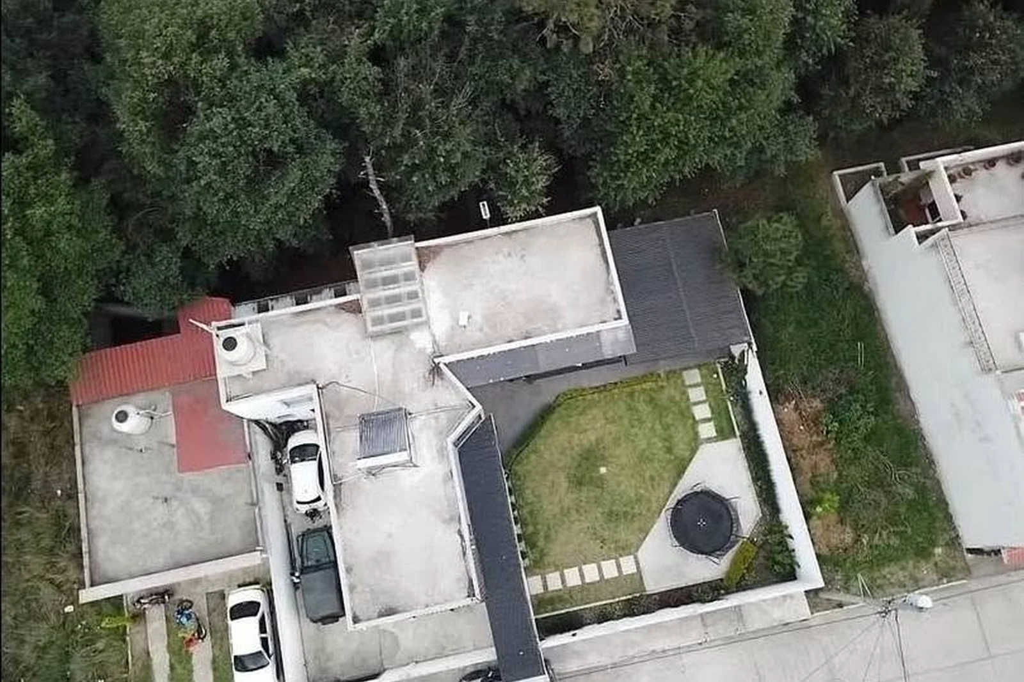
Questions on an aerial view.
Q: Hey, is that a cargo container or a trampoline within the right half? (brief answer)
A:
trampoline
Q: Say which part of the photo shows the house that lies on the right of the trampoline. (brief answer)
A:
right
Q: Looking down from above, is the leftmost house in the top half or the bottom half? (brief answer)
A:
bottom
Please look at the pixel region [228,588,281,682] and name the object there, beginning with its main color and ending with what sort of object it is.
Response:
white car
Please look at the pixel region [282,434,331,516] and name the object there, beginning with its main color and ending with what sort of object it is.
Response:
white car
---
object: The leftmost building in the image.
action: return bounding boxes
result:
[71,294,268,603]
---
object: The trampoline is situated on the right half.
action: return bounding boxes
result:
[667,483,748,566]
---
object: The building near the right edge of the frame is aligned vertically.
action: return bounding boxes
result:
[827,138,1024,568]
